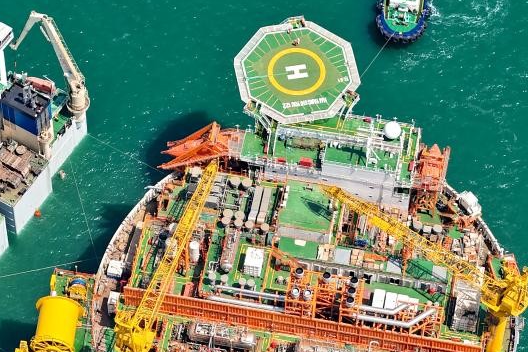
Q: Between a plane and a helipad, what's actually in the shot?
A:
helipad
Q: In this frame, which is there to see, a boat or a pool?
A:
boat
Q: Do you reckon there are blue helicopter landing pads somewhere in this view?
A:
No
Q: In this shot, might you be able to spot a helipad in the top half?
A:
Yes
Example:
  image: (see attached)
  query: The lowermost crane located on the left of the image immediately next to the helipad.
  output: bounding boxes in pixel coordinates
[107,158,215,352]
